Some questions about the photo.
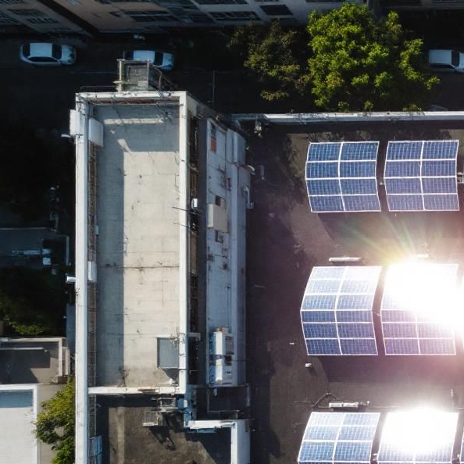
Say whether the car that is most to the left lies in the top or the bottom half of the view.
top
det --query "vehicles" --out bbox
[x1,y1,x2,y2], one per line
[22,40,79,68]
[424,48,464,75]
[121,45,179,74]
